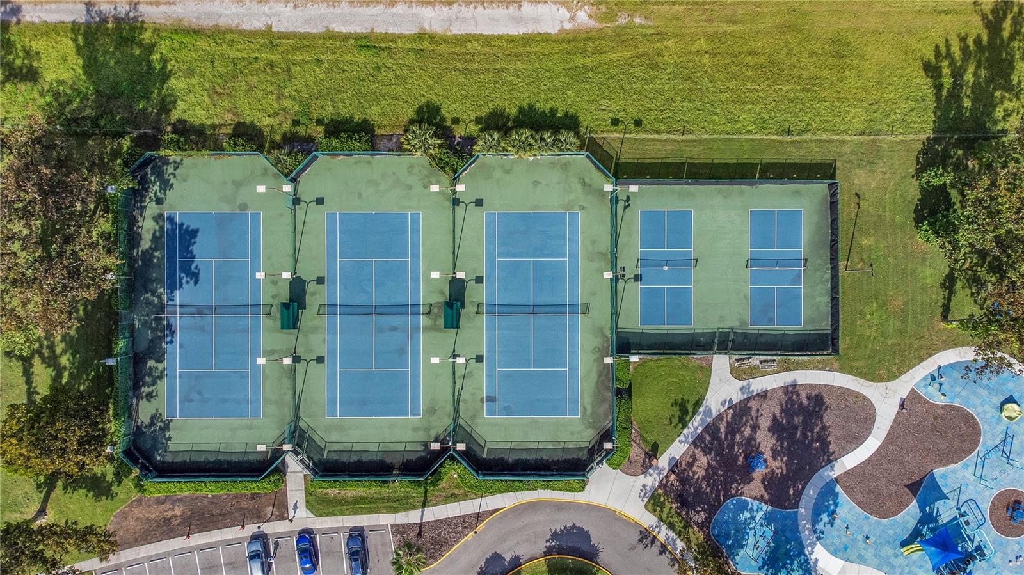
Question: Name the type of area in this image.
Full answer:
This looks like a sports ground.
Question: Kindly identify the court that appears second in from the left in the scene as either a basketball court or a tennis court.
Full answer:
The court that appears second in from the left is a tennis court.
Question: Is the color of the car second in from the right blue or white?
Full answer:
In this view, the car second in from the right is blue.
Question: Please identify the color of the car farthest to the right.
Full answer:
The car farthest to the right looks blue in the image.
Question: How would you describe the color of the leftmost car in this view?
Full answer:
The leftmost car looks blue in the image.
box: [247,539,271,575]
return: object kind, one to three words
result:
car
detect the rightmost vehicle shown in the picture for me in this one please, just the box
[343,533,367,575]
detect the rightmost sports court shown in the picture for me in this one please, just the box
[721,184,830,353]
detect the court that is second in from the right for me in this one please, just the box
[615,183,721,353]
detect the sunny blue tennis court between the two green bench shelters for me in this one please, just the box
[296,157,453,472]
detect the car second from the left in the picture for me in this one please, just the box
[296,534,318,574]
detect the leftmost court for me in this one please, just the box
[133,157,298,474]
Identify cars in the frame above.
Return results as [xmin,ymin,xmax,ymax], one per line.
[247,539,271,575]
[296,534,318,574]
[343,533,367,575]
